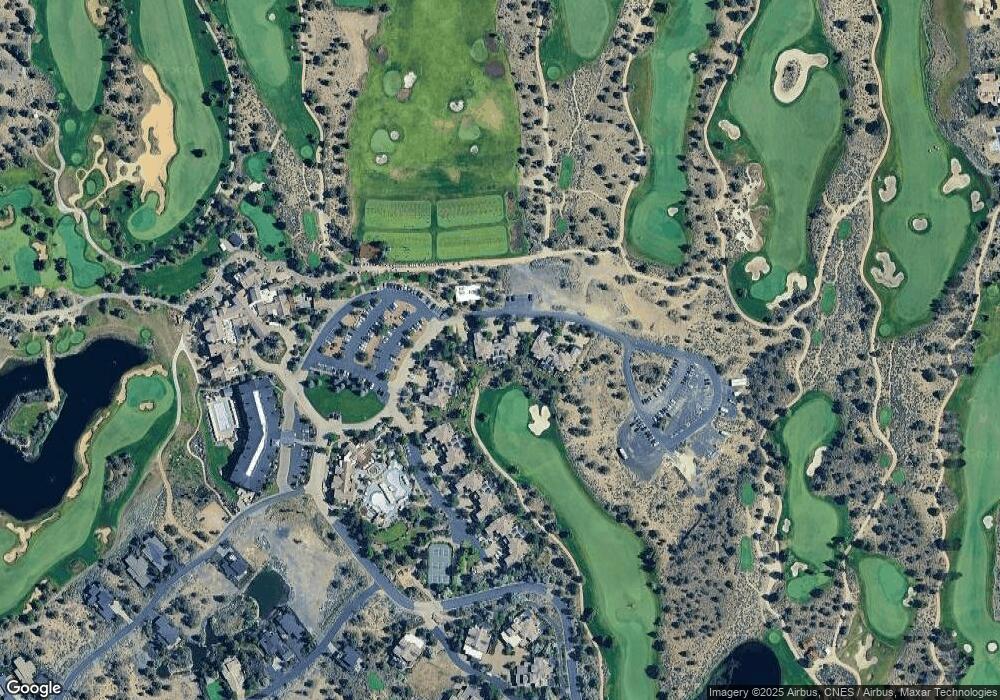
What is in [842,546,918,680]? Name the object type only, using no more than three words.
golf course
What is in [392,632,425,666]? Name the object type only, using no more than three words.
house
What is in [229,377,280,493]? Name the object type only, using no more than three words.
building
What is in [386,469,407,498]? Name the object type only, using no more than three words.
swimming pool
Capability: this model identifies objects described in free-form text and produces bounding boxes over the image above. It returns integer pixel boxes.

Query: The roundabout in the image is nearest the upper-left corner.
[246,324,295,373]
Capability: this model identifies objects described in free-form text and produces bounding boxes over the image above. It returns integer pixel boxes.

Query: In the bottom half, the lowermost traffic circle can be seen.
[412,599,450,630]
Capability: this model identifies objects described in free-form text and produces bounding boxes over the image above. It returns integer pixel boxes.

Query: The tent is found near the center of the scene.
[455,285,481,299]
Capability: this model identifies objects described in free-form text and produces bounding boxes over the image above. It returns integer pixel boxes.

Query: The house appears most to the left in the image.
[11,657,39,687]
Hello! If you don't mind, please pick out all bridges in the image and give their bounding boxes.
[41,329,62,407]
